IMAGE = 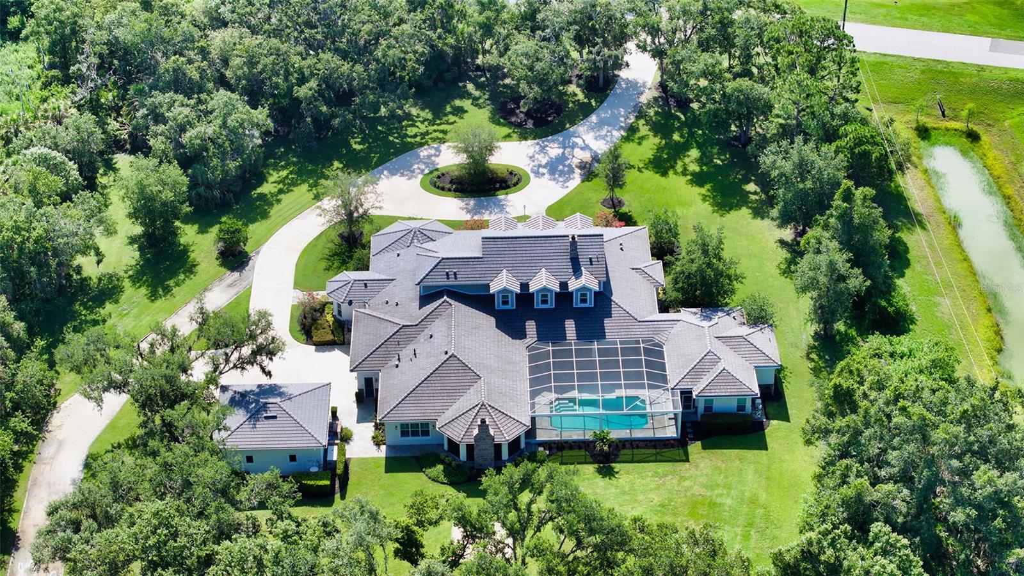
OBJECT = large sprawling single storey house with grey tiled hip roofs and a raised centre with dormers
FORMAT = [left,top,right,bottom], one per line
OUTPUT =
[325,212,781,473]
